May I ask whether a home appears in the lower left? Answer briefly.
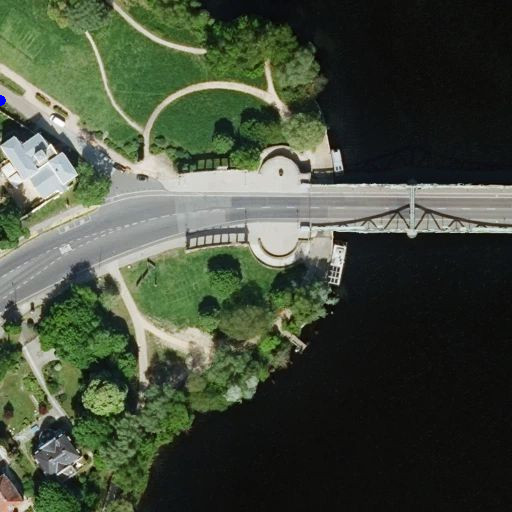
Yes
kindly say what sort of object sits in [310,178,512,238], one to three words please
bridge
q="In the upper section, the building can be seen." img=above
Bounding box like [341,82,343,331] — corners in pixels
[0,133,76,198]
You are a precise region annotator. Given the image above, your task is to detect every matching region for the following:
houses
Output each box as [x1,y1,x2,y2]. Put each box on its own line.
[0,133,76,198]
[32,434,82,478]
[0,474,23,512]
